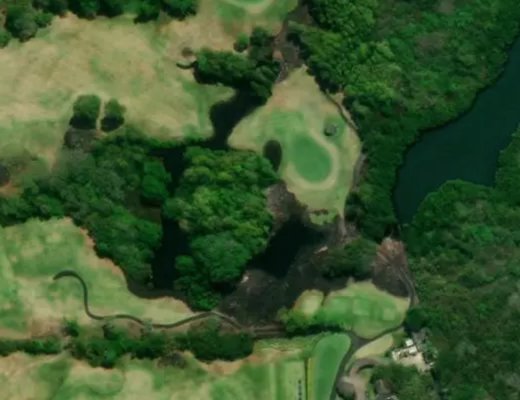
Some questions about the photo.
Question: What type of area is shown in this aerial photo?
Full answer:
This looks like a golf course.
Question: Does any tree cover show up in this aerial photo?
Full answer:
Yes, tree cover shows up in the scene.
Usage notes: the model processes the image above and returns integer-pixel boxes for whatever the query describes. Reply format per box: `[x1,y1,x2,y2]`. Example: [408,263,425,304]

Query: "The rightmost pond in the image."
[392,25,520,224]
